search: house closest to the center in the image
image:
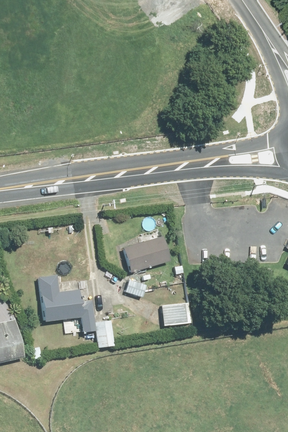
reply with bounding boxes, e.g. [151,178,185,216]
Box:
[124,236,170,272]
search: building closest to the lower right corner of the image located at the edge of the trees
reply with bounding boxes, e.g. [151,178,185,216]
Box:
[162,303,192,326]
